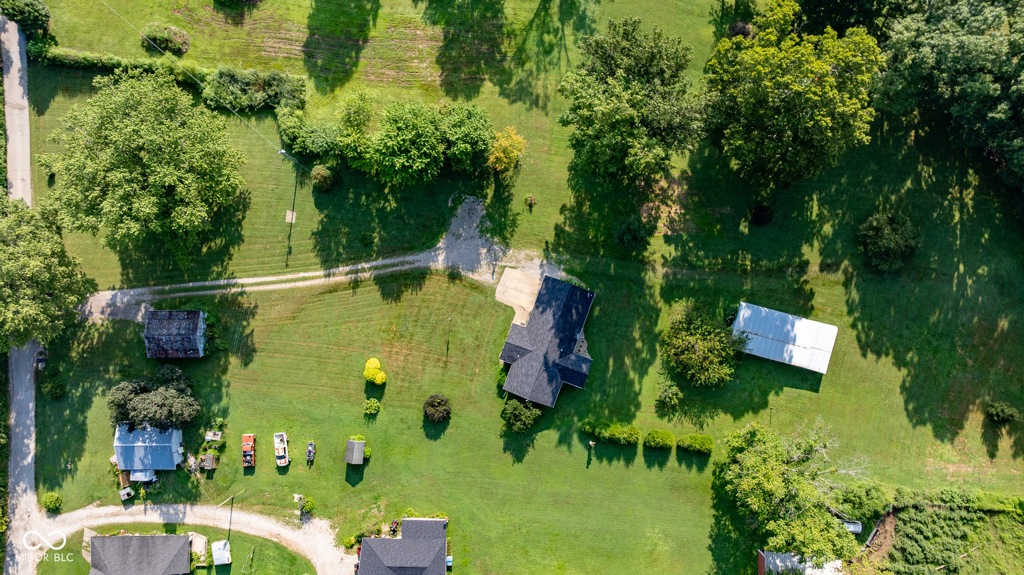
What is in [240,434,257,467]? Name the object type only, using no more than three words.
vehicle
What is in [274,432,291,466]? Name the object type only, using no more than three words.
vehicle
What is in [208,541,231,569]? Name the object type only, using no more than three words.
shed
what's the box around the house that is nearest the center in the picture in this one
[499,275,596,408]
